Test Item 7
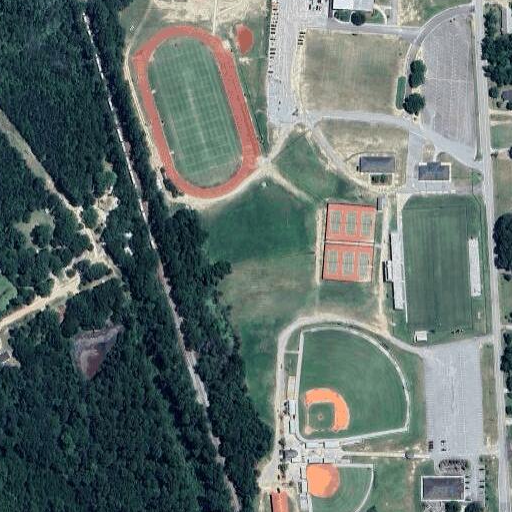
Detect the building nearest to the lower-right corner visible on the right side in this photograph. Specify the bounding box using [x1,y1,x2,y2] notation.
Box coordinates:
[421,475,465,501]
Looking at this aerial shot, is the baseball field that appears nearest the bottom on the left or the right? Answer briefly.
right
